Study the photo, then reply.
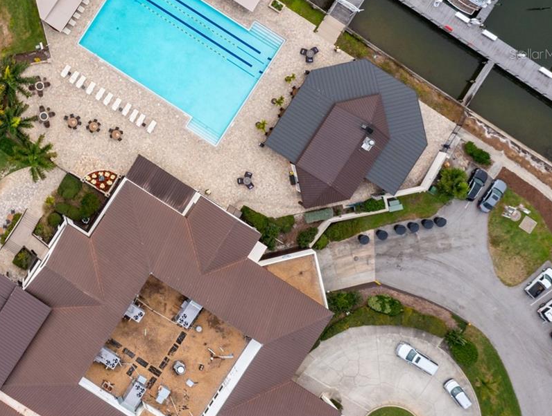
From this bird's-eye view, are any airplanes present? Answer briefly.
No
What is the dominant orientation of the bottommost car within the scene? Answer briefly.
diagonally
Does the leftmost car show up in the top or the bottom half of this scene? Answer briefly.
bottom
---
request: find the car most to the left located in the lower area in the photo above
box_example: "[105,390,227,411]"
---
[391,340,439,375]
